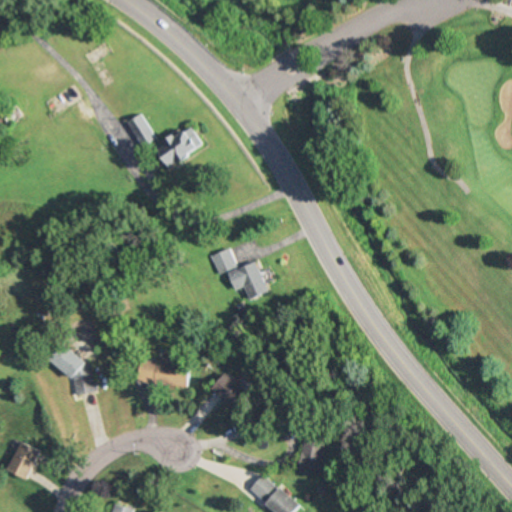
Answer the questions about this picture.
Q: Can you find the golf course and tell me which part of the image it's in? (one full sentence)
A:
You can find the golf course in the top right area of the picture.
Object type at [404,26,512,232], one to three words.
golf course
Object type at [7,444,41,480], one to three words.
house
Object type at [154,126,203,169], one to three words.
house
